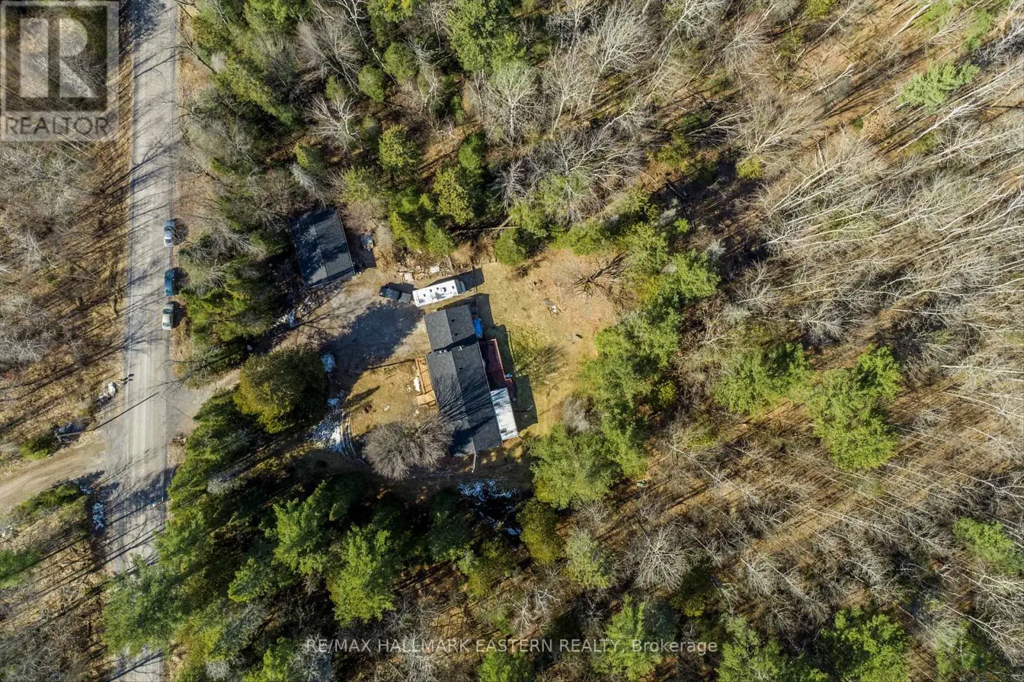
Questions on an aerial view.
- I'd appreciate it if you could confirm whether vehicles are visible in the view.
Yes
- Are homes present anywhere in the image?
Yes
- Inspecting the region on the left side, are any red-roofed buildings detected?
No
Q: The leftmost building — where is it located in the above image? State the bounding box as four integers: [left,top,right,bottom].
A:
[288,208,358,291]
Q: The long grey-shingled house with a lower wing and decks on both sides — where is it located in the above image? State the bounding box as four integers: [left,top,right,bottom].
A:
[415,308,518,455]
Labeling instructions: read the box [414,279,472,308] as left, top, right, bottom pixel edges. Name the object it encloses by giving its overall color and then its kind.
white vehicle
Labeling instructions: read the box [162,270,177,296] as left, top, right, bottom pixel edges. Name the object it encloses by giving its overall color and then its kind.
blue car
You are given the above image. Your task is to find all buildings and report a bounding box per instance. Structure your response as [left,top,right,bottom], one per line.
[415,308,518,455]
[288,208,358,291]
